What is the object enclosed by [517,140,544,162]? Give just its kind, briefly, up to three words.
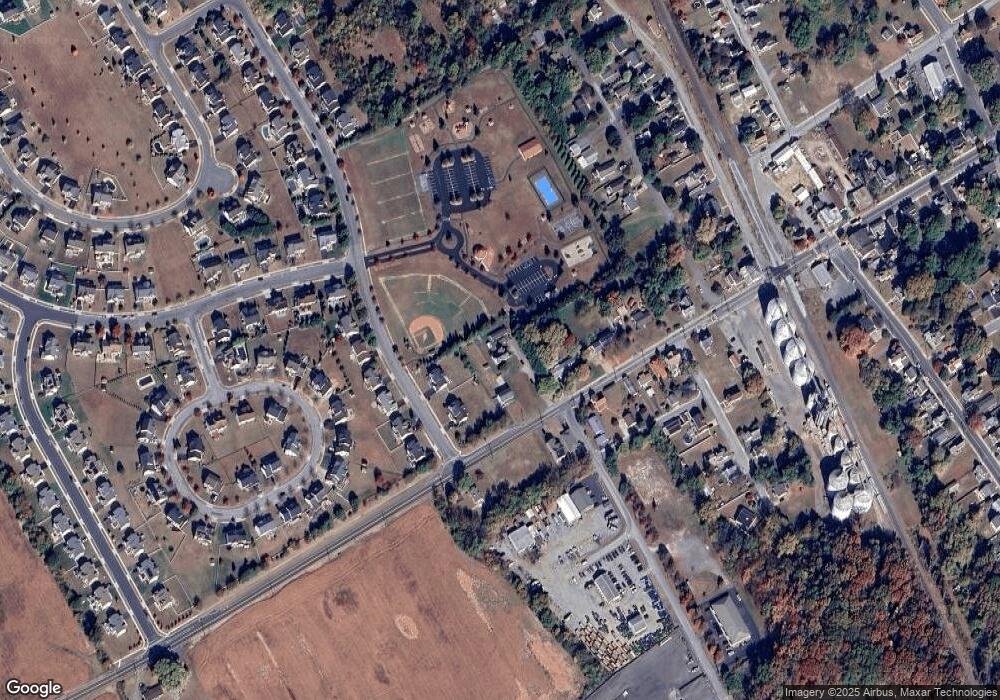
building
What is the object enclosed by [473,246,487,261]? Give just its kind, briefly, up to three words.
gazebo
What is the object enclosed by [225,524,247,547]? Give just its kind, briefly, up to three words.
house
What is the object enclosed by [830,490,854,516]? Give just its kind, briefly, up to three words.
silo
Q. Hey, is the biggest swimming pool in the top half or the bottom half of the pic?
top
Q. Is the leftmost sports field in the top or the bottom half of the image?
top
